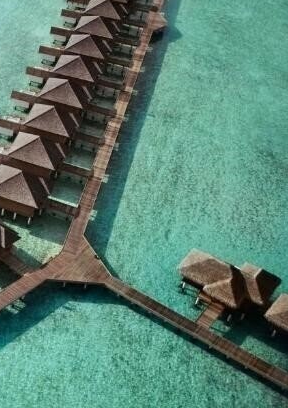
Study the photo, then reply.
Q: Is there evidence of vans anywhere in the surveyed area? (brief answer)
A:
No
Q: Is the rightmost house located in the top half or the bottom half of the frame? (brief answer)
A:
bottom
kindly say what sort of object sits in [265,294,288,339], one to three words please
house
